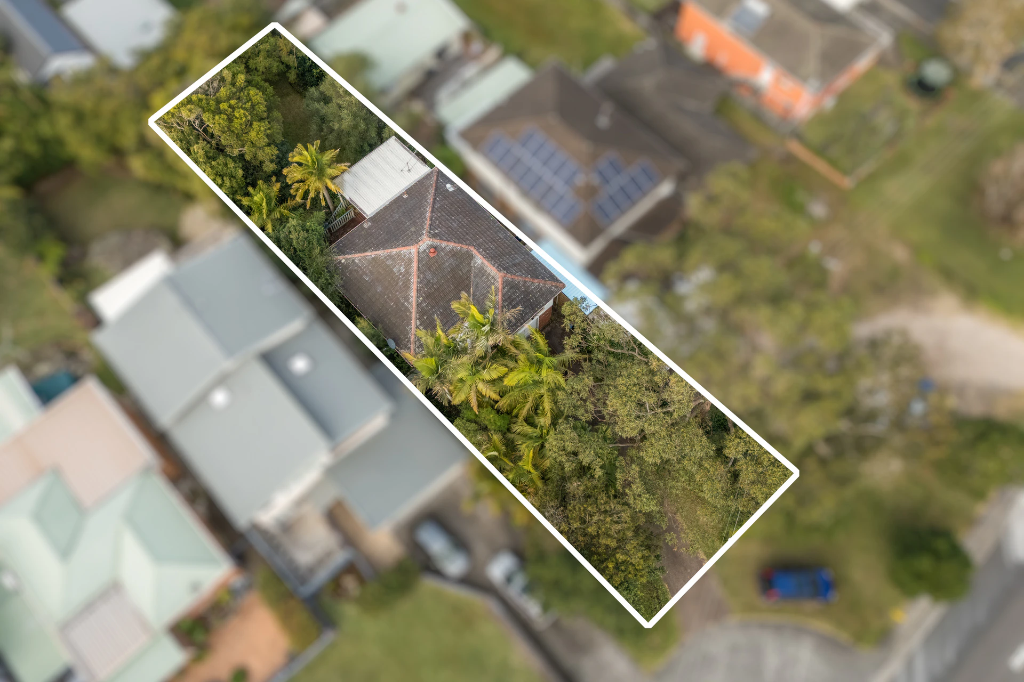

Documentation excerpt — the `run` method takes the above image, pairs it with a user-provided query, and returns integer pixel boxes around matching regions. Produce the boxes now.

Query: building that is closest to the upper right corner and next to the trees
[670,0,888,140]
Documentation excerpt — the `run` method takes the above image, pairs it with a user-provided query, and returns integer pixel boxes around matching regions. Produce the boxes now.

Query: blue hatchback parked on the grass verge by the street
[760,566,835,602]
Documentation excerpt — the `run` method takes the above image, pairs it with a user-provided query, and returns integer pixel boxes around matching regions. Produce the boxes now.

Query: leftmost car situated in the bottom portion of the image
[407,511,475,586]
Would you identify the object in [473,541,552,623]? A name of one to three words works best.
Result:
vehicle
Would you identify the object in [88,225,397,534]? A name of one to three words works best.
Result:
house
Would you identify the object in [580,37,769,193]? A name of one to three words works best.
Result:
house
